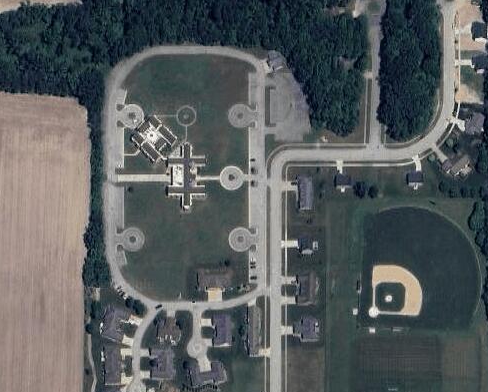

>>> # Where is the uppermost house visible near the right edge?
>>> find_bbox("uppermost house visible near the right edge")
[471,22,488,42]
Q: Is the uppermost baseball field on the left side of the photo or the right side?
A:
right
